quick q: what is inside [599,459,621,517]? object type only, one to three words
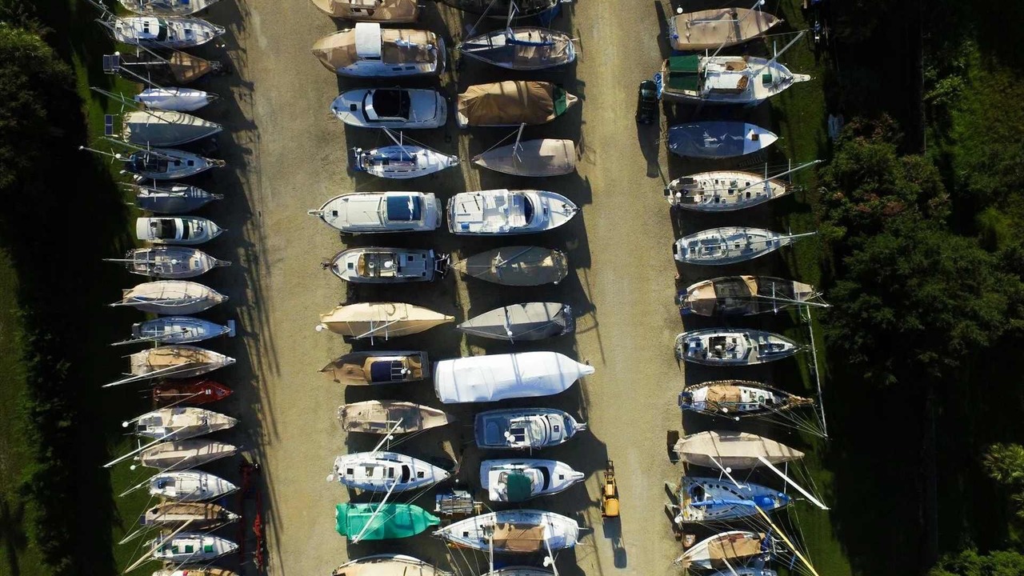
work vehicle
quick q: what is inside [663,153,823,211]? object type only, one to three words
boat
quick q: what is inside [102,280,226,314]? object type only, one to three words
boat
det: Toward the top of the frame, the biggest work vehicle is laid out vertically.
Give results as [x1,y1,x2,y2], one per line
[632,81,657,132]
